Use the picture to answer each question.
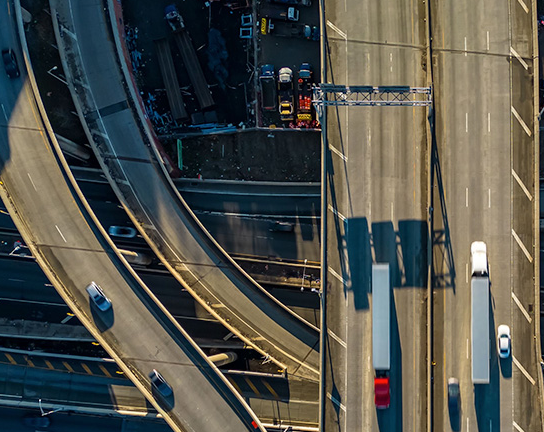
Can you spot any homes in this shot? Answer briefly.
No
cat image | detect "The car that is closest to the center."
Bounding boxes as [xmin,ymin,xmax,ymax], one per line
[271,220,296,233]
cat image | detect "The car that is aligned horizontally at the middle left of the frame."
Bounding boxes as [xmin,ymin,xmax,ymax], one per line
[110,225,138,238]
